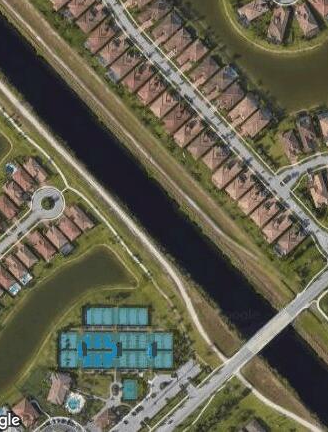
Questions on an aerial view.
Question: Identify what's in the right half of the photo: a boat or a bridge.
bridge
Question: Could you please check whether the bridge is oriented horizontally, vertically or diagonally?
diagonally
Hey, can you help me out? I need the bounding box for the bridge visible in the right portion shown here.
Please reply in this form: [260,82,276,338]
[244,307,296,359]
